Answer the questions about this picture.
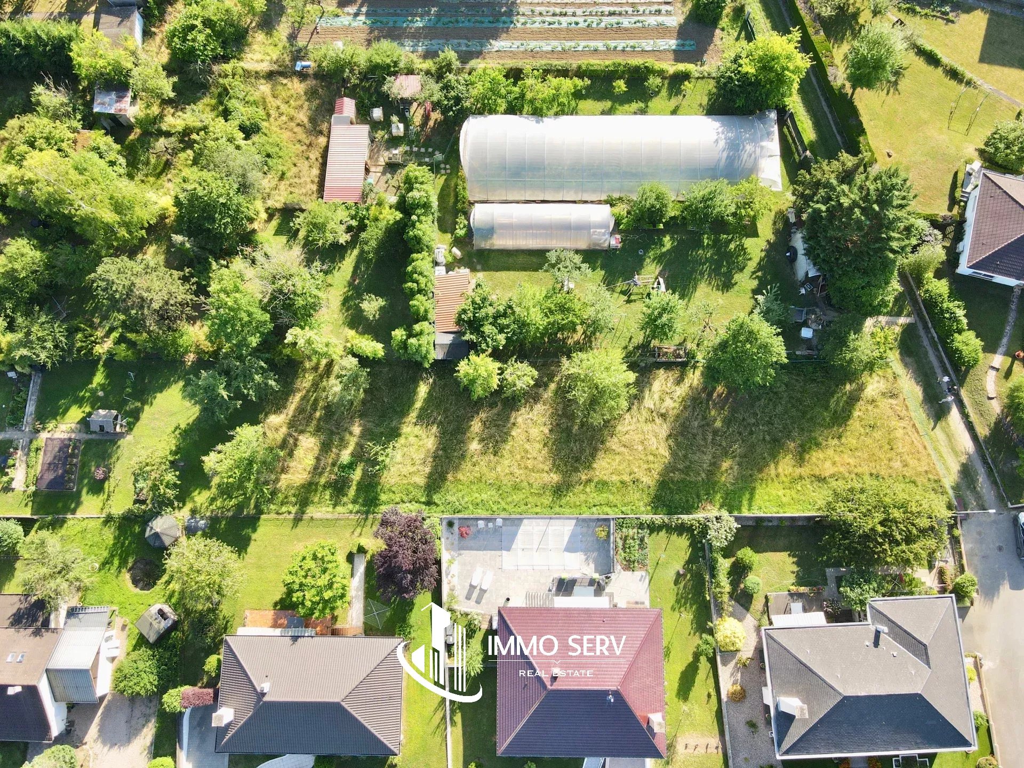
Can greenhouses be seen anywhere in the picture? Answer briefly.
Yes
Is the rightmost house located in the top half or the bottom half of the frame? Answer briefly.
top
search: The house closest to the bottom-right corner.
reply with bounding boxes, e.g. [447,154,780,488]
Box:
[755,590,982,763]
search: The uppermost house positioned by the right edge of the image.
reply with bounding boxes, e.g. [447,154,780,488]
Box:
[949,168,1024,297]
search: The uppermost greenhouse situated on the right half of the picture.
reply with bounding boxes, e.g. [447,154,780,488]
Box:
[461,110,782,201]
